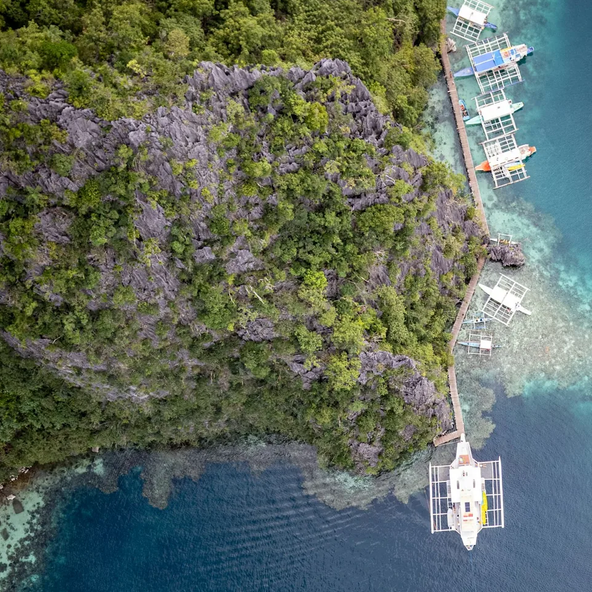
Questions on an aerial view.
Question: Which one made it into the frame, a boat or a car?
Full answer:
The one in the frame is a boat.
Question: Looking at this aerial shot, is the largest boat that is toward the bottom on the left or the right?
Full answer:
The largest boat that is toward the bottom sits on the right side.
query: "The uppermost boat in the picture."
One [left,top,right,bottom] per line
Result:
[447,0,497,43]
